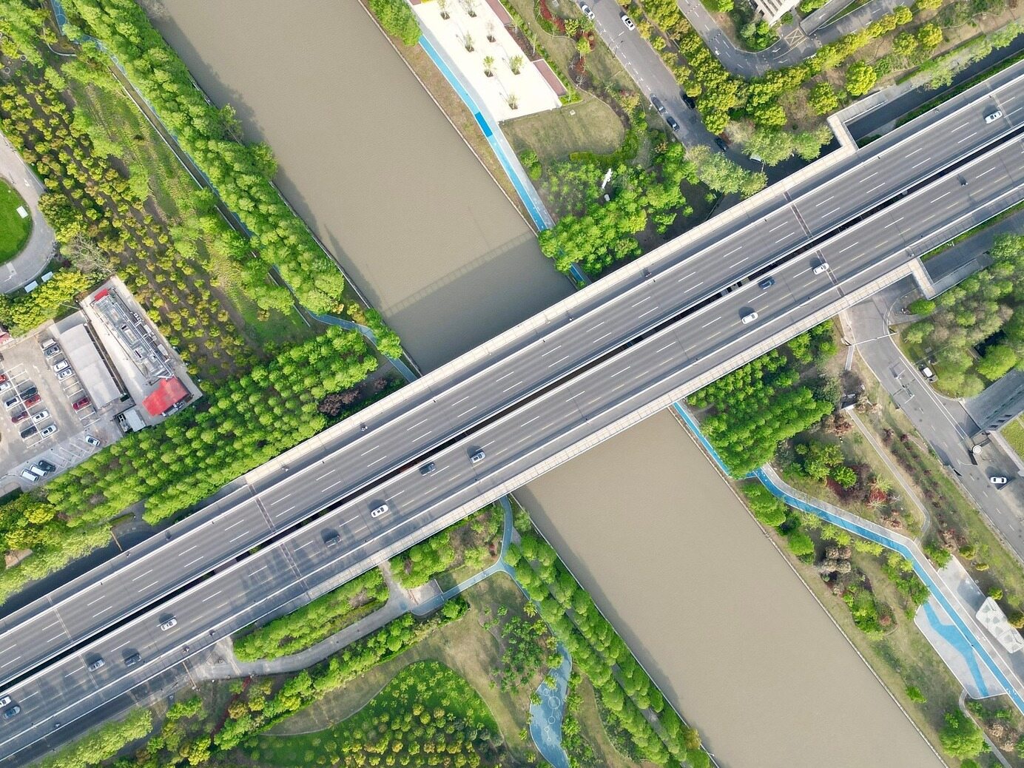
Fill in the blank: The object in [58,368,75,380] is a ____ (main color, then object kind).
white vehicle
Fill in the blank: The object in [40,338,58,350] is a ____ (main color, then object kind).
white vehicle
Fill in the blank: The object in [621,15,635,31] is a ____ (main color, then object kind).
white car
